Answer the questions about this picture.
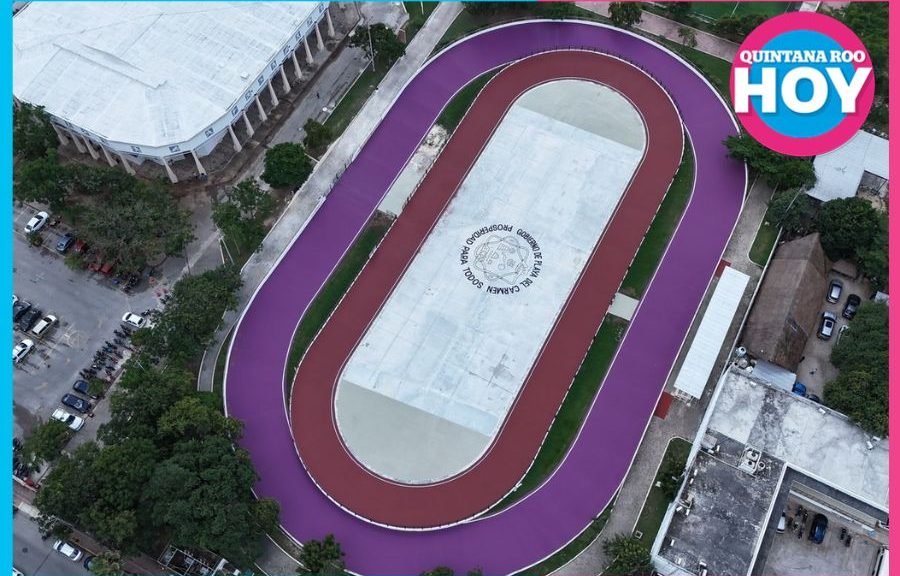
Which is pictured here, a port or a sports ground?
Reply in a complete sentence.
It's a sports ground.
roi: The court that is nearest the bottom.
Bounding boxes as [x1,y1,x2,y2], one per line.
[333,78,646,484]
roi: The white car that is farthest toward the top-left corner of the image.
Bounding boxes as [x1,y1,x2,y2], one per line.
[23,212,51,234]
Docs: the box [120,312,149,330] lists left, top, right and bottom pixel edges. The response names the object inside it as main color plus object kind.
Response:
white car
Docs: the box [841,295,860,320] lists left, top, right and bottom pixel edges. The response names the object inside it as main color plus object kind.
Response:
black car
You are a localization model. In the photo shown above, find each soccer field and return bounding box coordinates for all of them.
[691,0,797,38]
